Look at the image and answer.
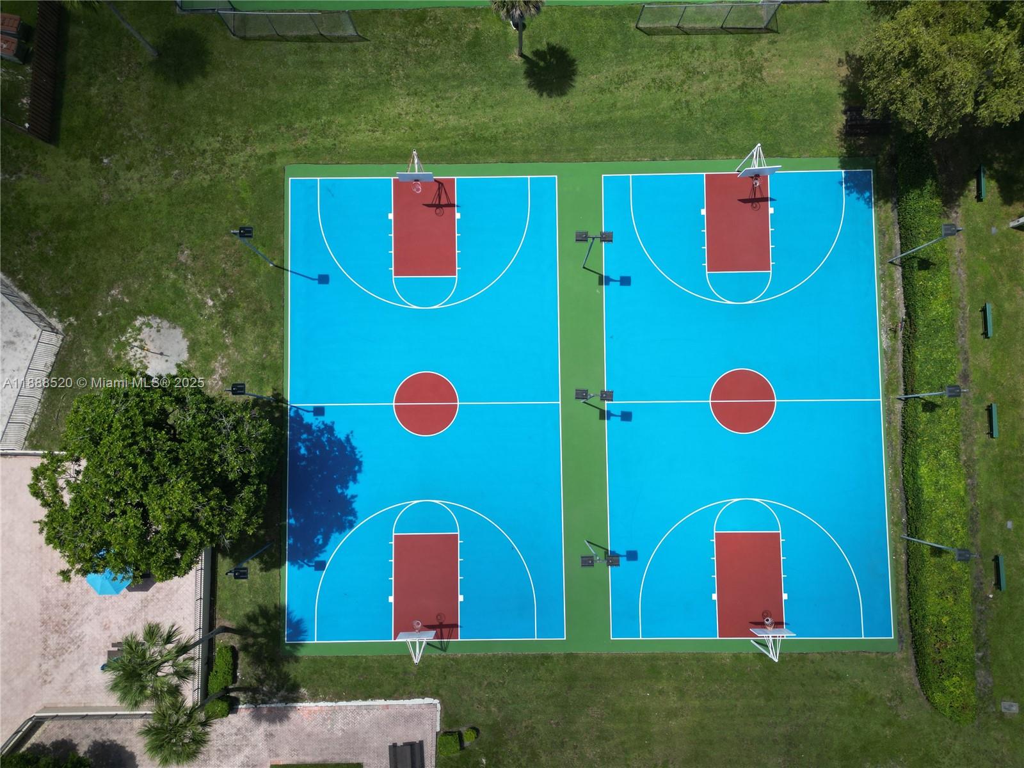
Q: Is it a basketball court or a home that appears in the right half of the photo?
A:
basketball court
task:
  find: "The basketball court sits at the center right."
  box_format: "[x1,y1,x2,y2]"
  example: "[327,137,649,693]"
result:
[603,170,893,639]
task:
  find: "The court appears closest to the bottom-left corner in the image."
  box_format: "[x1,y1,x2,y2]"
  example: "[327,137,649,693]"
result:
[286,176,566,642]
